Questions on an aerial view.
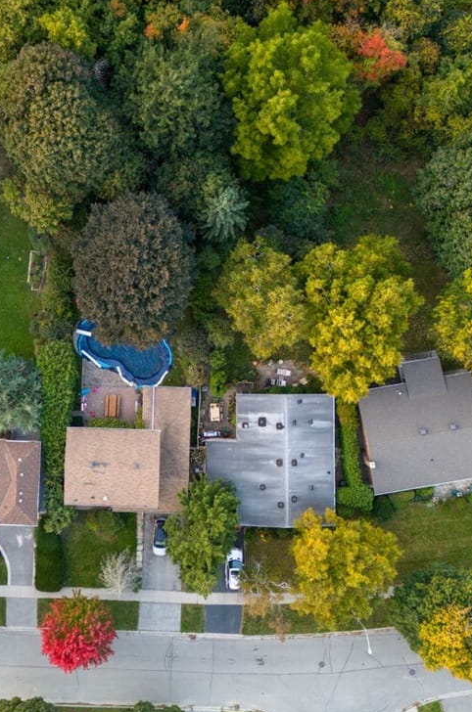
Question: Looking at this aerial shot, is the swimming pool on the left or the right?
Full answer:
The swimming pool sits on the left side.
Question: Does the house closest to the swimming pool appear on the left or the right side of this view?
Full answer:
It is on the left.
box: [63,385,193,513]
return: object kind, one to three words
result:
house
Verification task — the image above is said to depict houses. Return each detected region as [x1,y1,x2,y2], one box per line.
[63,385,193,513]
[351,351,472,495]
[203,392,336,529]
[0,439,41,526]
